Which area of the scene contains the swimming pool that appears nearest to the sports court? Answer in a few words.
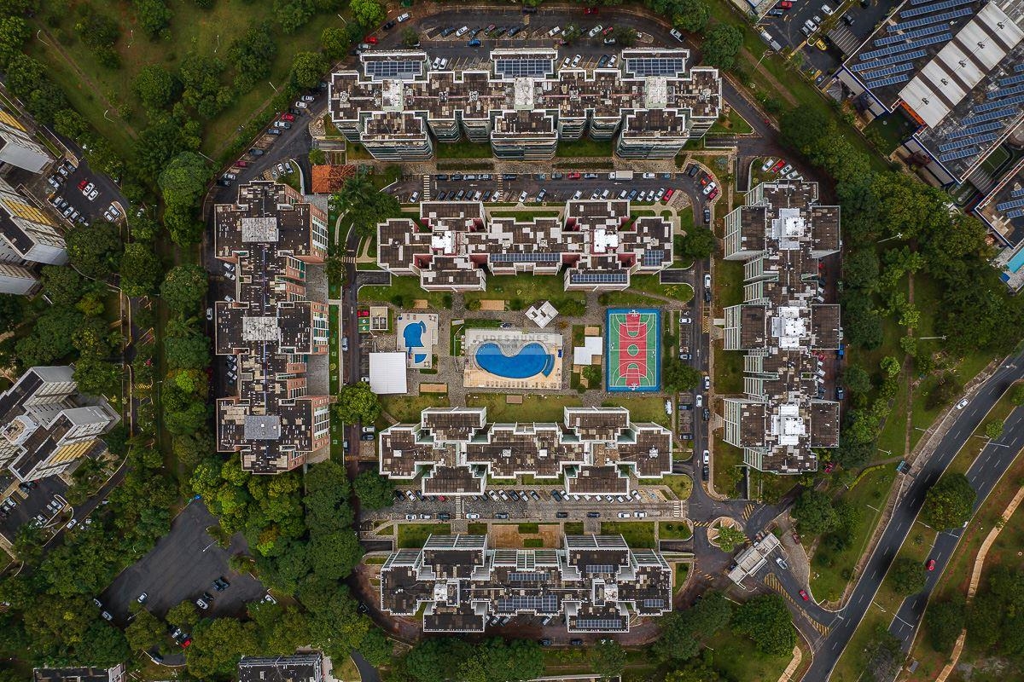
center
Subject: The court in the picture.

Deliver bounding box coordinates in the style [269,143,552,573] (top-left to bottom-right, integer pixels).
[607,308,663,392]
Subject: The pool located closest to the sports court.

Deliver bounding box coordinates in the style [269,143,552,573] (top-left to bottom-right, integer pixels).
[464,329,562,389]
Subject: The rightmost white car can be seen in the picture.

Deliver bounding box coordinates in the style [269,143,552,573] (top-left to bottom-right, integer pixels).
[954,398,969,410]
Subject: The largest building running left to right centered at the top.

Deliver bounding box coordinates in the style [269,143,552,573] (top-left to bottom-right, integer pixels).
[328,48,722,166]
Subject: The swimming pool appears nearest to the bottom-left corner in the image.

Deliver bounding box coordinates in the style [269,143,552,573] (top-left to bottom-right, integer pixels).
[397,313,438,369]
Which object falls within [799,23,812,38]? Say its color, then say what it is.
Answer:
gray vehicle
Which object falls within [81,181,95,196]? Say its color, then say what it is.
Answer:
white car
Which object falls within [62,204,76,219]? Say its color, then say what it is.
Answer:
gray car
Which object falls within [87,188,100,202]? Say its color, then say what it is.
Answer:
white vehicle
